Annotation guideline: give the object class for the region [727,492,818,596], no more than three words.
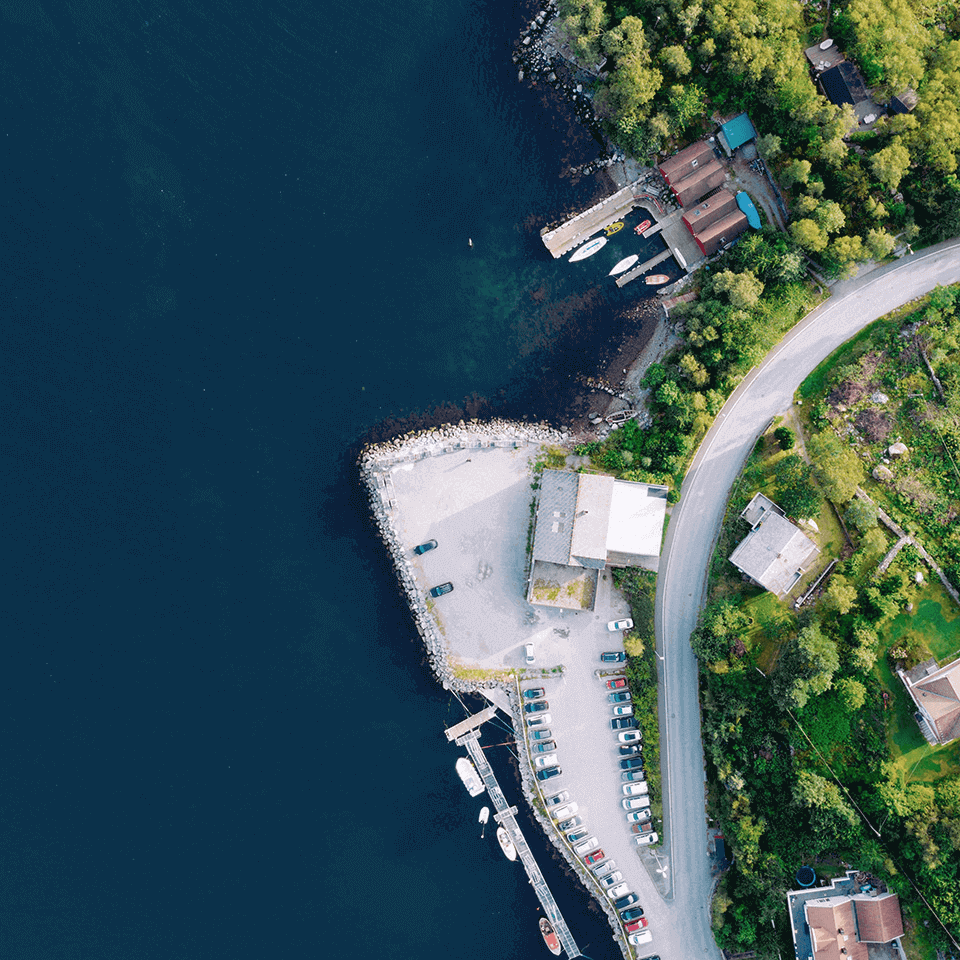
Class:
house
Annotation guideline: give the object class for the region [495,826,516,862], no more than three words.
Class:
boat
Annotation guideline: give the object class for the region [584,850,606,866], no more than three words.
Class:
car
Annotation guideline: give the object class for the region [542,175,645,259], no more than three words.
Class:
pier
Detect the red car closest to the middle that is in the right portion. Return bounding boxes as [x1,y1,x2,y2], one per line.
[606,678,629,691]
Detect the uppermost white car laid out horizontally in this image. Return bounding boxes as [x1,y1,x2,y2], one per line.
[609,619,634,631]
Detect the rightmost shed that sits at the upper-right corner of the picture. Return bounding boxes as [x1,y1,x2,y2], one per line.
[886,86,917,116]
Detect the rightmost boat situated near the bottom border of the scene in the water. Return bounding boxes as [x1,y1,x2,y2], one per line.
[536,916,560,958]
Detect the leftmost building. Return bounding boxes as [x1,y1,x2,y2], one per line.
[532,470,614,569]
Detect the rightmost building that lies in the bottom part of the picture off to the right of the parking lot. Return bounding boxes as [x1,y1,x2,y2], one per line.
[899,654,960,744]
